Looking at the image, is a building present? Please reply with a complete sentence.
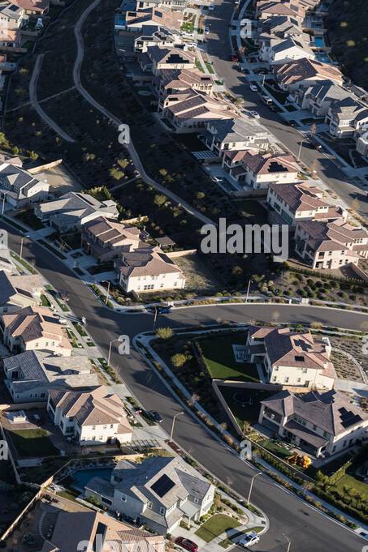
Yes, there's a building down there.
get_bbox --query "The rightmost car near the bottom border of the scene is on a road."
[239,531,260,547]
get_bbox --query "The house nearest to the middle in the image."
[112,251,188,294]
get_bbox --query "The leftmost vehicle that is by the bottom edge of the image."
[175,539,197,552]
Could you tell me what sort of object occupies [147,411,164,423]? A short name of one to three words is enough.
vehicle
